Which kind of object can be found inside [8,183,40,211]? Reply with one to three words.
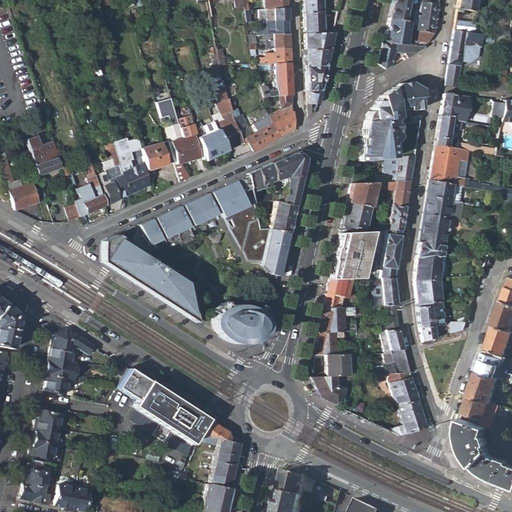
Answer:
house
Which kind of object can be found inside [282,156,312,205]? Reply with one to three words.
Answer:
building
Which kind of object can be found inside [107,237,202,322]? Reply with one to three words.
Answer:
building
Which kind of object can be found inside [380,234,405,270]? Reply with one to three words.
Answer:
house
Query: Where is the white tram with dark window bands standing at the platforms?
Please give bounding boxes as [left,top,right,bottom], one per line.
[0,244,64,288]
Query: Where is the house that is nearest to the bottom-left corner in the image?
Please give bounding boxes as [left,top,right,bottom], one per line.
[17,472,44,505]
